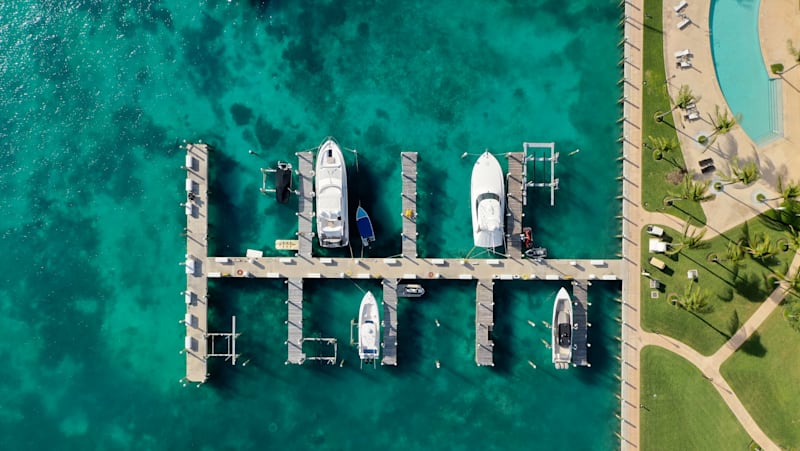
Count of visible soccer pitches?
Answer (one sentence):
The count of soccer pitches is 0.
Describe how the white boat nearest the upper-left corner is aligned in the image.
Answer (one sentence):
Seen from above, the white boat nearest the upper-left corner lies vertically.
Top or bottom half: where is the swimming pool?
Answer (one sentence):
Seen from above, the swimming pool lies in the top half of the view.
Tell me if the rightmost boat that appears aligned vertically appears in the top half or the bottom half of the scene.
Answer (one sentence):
It is in the bottom half that the rightmost boat that appears aligned vertically appears.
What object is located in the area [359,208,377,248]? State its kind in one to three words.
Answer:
boat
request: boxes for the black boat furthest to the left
[276,160,291,203]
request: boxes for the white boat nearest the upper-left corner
[316,136,351,249]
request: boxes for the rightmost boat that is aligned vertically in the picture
[552,286,573,367]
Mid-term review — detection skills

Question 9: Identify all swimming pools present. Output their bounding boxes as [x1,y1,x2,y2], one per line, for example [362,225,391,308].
[706,0,786,148]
